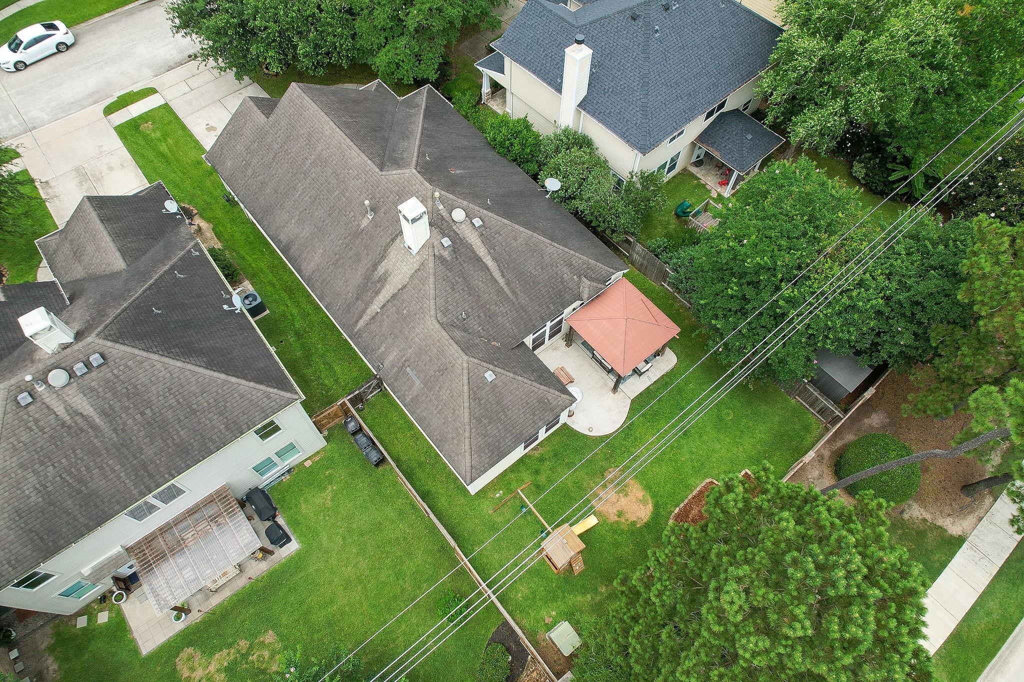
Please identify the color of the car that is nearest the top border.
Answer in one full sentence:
In this view, the car that is nearest the top border is white.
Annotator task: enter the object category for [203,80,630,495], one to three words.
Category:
house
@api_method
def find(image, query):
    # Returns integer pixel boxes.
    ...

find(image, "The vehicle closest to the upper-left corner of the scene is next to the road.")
[0,17,72,67]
